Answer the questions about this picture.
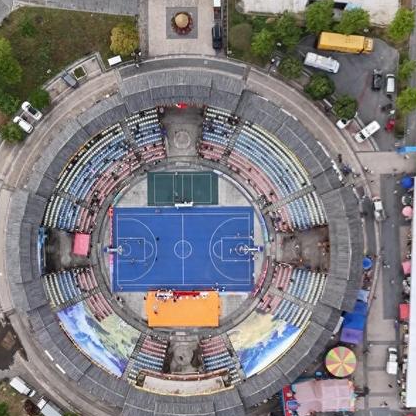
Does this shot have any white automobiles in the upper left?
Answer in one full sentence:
Yes, looking in the upper left, one can make out a white automobile.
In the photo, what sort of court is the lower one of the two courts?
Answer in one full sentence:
The lower one of the two courts is a basketball court.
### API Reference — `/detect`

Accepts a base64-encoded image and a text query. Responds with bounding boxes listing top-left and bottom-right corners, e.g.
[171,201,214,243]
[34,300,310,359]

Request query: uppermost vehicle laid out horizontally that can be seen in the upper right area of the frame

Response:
[316,31,373,56]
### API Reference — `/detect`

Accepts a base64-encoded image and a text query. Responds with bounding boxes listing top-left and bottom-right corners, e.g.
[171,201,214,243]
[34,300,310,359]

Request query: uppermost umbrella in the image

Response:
[400,176,414,189]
